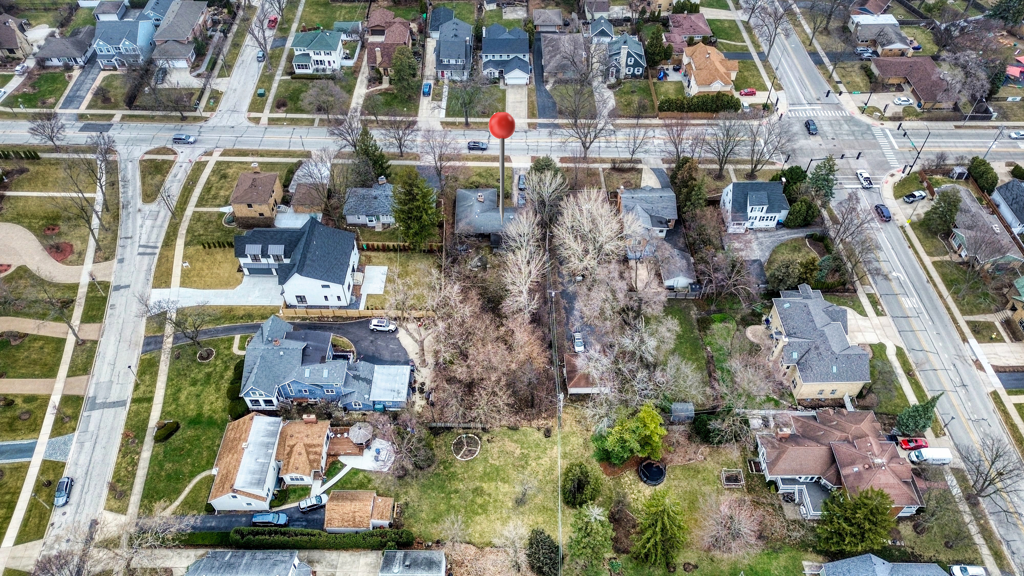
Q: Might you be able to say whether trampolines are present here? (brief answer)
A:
Yes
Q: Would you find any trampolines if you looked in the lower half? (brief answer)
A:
Yes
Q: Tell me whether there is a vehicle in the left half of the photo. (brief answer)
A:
Yes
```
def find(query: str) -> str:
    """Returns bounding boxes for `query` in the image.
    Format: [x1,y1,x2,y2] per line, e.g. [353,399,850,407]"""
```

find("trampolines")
[639,455,668,486]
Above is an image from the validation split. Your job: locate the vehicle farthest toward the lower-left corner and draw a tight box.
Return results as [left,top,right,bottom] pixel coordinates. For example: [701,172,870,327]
[49,474,81,510]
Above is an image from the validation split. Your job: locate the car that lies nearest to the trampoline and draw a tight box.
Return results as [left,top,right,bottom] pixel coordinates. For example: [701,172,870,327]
[571,328,587,353]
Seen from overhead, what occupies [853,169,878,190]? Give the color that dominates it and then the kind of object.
white truck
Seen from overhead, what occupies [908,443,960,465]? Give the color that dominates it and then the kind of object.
white vehicle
